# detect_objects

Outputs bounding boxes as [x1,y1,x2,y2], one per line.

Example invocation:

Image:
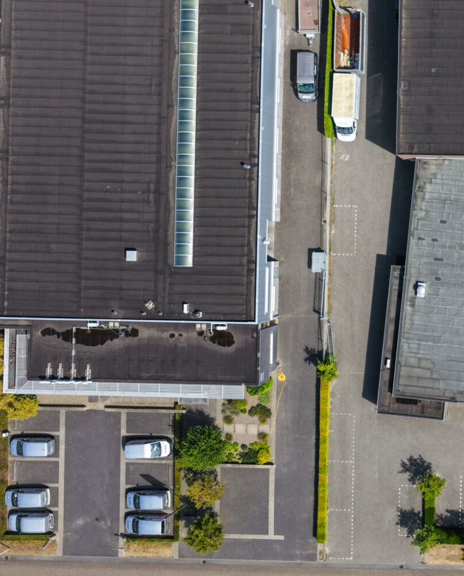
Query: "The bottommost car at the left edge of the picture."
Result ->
[9,509,56,534]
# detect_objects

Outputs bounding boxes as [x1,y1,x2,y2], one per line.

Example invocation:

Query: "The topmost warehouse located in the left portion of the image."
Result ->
[0,0,290,338]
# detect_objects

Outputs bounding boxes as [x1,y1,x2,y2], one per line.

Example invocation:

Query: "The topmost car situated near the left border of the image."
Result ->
[11,435,59,458]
